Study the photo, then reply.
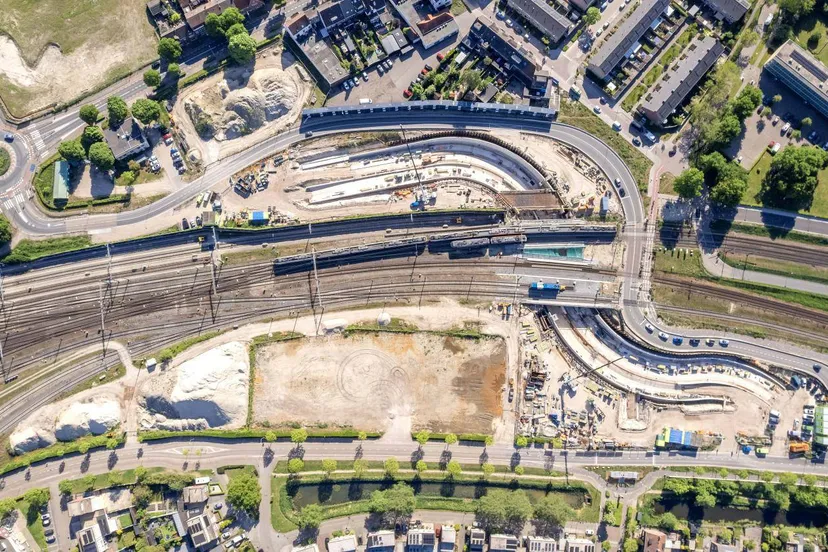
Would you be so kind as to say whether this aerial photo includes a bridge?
Yes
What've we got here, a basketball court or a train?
train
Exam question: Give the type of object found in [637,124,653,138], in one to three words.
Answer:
vehicle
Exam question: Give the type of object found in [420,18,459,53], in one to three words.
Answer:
building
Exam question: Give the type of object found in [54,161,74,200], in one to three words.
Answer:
shed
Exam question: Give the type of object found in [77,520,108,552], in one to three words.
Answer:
house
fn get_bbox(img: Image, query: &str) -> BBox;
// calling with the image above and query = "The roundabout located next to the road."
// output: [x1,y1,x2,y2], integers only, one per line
[0,120,36,202]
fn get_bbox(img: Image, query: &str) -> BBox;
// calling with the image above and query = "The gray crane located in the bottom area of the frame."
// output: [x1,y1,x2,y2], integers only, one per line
[554,348,626,397]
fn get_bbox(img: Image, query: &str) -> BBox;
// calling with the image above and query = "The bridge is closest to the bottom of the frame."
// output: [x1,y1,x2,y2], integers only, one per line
[496,269,622,309]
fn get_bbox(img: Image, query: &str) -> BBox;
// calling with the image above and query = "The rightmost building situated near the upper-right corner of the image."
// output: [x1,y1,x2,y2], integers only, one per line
[763,39,828,107]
